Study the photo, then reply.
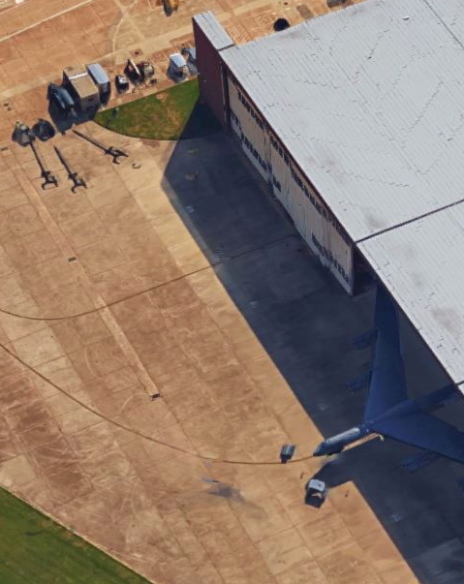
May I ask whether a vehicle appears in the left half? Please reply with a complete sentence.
Yes, a vehicle can be seen in the left half.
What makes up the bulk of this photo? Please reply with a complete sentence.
For the most part, this view shows paved ground.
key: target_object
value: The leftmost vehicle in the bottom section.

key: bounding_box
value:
[280,440,297,464]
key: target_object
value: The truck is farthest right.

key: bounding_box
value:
[303,475,330,507]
